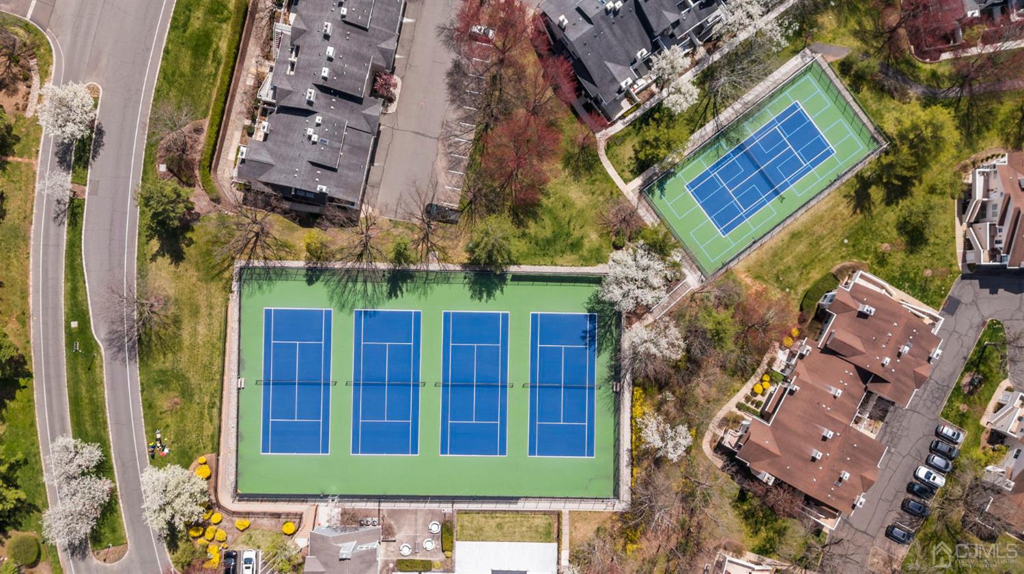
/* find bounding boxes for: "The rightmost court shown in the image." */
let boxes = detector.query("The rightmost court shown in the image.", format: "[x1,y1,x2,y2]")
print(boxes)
[647,64,879,272]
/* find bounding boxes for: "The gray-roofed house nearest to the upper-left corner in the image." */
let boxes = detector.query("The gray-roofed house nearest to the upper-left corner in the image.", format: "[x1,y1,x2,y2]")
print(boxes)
[232,0,414,214]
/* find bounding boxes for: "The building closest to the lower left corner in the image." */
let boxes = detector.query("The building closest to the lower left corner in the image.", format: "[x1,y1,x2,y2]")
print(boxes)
[305,520,383,574]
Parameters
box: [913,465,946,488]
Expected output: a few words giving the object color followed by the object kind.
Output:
white car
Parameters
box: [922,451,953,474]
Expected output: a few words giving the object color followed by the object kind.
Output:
gray car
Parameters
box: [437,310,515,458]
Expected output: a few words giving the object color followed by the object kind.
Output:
blue tennis court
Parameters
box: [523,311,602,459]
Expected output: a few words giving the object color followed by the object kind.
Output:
blue tennis court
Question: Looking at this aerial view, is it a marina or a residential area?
residential area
